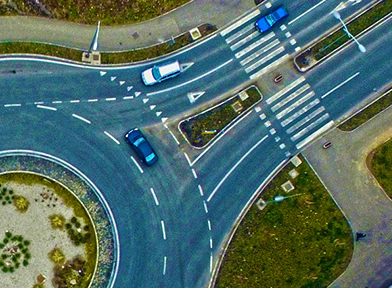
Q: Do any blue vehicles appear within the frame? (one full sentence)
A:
Yes, there's a blue vehicle here.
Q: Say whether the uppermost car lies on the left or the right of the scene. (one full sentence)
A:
The uppermost car is on the right side of the image.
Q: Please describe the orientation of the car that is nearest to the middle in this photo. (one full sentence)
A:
Seen from above, the car that is nearest to the middle lies at an angle.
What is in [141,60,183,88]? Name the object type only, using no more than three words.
car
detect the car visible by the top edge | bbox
[254,3,290,33]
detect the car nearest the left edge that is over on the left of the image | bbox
[125,128,159,167]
